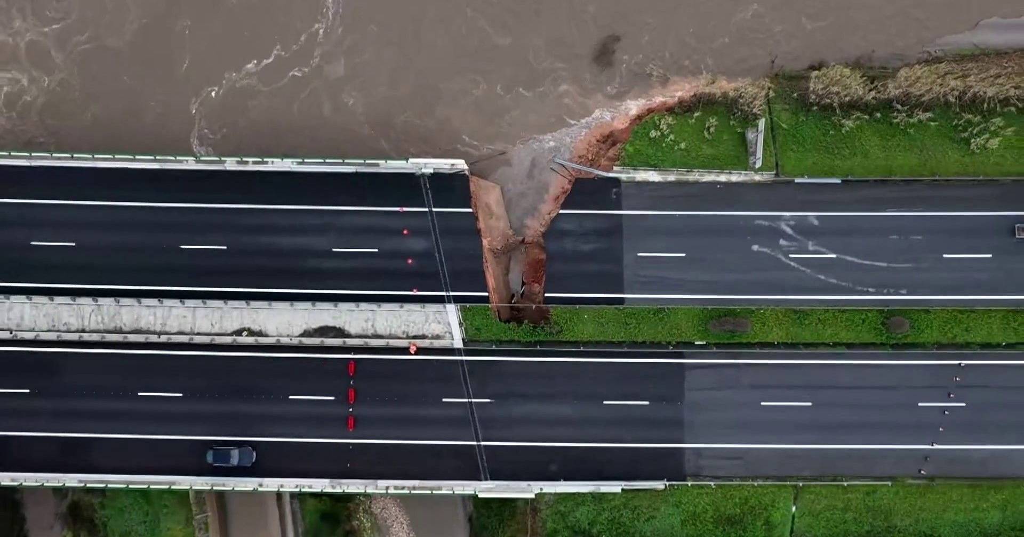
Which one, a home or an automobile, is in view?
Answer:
automobile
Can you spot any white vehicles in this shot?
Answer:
No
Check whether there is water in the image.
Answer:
Yes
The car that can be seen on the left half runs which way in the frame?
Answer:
from side to side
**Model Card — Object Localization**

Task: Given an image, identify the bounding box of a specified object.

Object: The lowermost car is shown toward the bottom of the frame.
[206,444,257,469]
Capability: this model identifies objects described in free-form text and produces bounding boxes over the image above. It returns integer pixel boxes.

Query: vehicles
[206,444,257,469]
[1008,223,1024,240]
